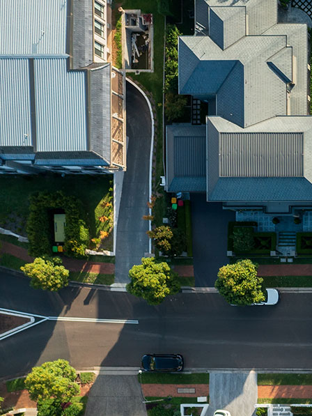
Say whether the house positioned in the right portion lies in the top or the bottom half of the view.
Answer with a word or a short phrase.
top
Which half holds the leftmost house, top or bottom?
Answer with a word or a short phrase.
top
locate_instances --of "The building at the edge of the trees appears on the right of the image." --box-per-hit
[164,0,312,247]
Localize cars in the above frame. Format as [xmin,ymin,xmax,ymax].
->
[141,354,186,371]
[248,287,280,306]
[213,408,232,416]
